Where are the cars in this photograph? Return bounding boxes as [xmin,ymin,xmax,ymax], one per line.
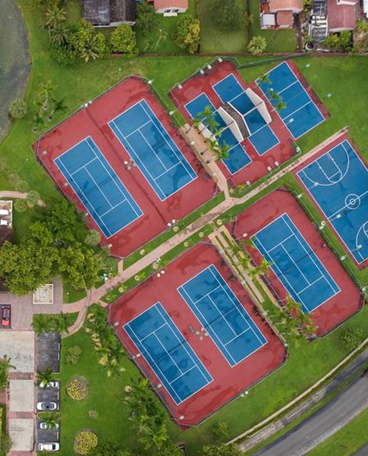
[39,423,58,430]
[39,443,58,451]
[39,380,57,387]
[1,306,9,325]
[37,403,57,410]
